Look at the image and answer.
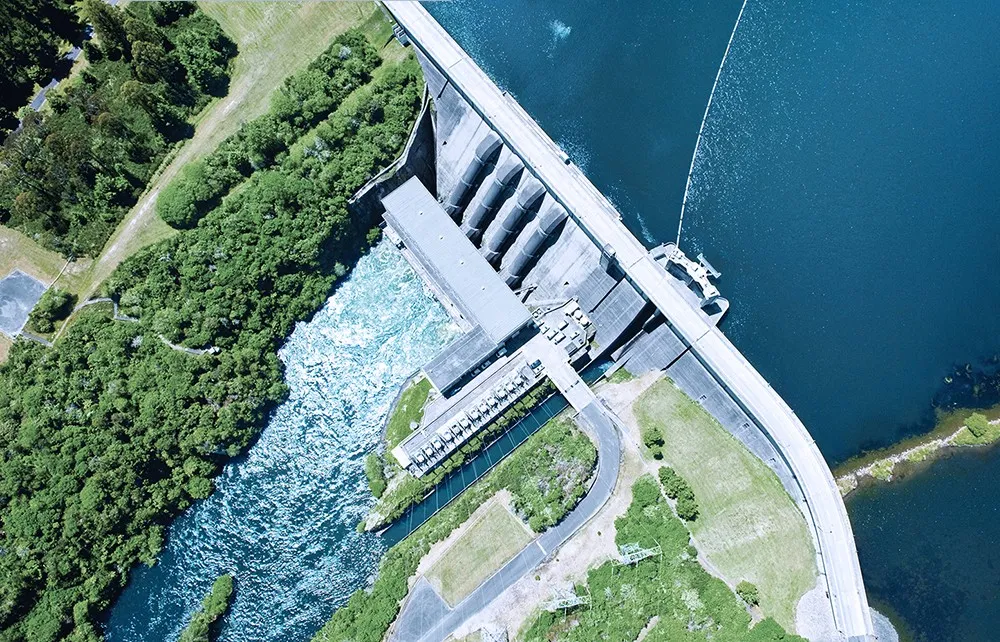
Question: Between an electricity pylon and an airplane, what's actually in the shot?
electricity pylon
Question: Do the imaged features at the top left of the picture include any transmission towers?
No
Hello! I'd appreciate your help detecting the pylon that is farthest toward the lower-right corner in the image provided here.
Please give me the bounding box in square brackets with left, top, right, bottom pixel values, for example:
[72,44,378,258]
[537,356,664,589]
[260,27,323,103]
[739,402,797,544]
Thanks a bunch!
[610,533,662,565]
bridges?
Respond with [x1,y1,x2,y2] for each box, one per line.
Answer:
[548,358,599,413]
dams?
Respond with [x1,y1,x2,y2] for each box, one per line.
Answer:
[379,0,877,642]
